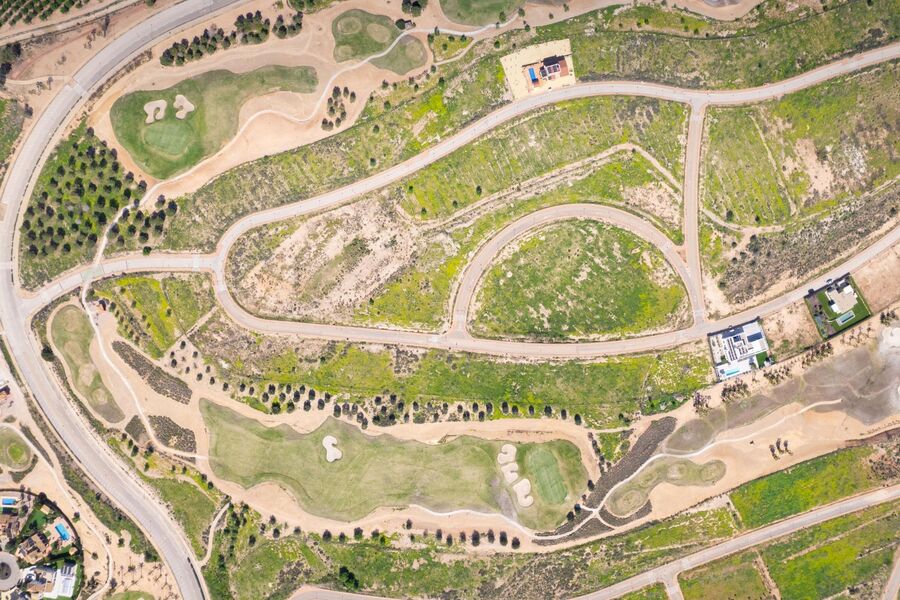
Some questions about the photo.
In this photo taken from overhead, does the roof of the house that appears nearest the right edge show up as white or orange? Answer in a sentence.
In this view, the roof of the house that appears nearest the right edge is white.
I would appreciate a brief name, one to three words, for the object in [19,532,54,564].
house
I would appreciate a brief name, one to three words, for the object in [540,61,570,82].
house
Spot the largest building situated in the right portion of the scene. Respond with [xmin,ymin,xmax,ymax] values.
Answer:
[722,328,768,362]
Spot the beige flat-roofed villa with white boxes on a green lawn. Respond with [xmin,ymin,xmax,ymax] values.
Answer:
[823,280,858,313]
